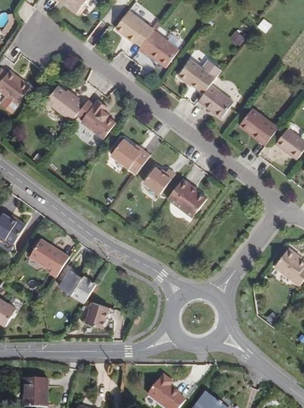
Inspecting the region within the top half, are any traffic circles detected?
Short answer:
No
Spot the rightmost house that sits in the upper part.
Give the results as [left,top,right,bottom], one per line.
[276,128,304,160]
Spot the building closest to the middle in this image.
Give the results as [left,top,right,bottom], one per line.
[146,167,176,200]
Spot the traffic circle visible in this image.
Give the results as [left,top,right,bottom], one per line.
[148,268,246,360]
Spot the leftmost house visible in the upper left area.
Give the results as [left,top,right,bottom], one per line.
[0,67,32,111]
